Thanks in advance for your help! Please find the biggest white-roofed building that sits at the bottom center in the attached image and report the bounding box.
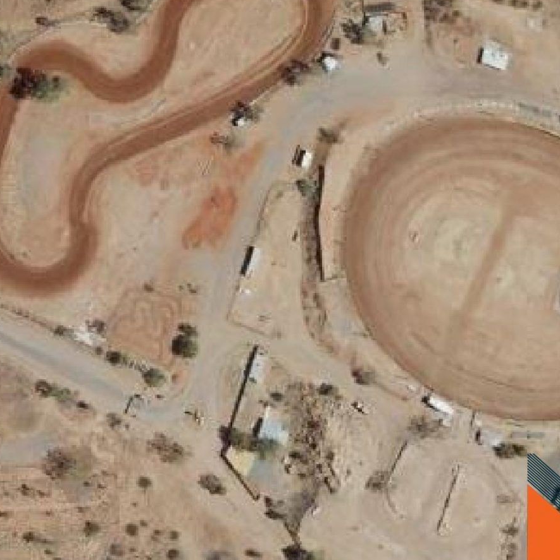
[259,416,288,443]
